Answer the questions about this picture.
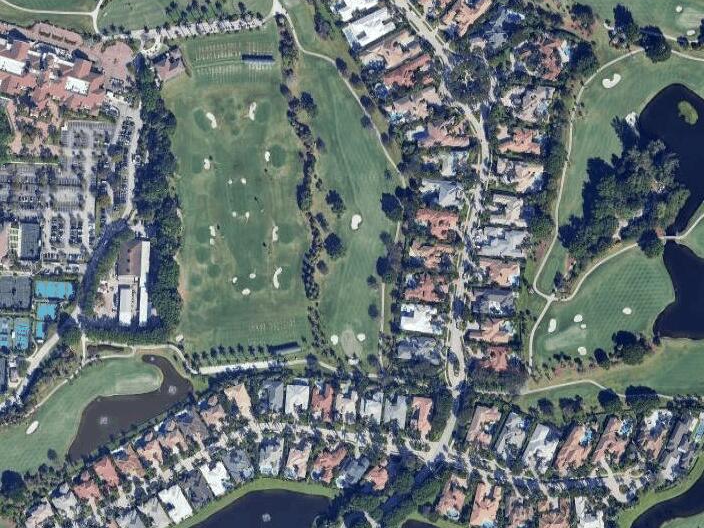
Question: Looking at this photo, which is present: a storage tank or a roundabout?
roundabout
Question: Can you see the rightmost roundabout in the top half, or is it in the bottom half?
top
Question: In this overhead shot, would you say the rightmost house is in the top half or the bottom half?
bottom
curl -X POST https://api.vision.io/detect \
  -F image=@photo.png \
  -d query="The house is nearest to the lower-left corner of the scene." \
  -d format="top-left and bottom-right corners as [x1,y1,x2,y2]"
[23,504,56,528]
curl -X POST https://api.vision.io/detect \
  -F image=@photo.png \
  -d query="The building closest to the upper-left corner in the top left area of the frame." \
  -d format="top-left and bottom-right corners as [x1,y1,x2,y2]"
[0,37,108,109]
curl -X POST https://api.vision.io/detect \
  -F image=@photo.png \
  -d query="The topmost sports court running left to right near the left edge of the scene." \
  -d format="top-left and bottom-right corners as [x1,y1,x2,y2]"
[35,281,73,298]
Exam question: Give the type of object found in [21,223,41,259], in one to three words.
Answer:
tennis court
